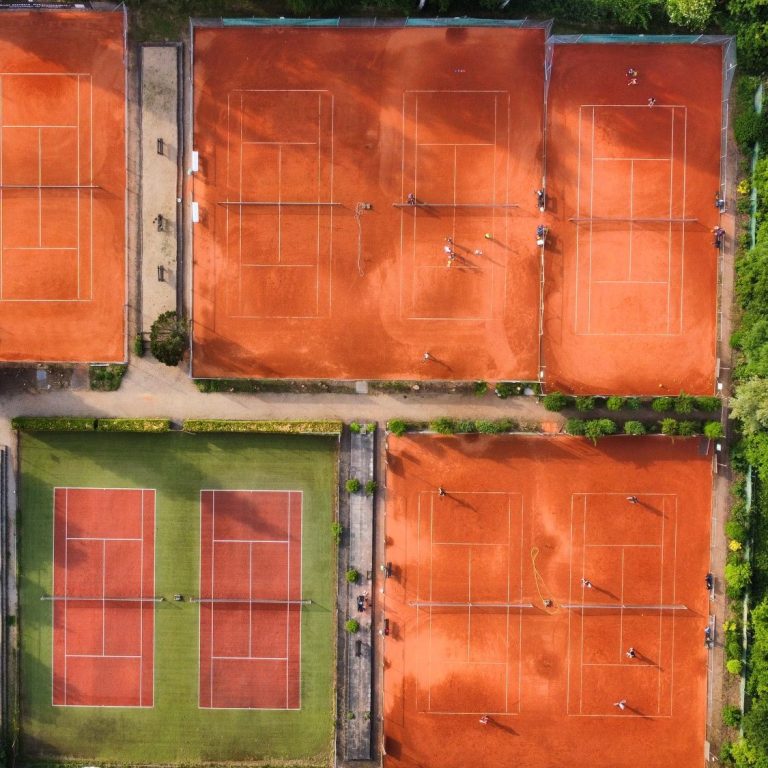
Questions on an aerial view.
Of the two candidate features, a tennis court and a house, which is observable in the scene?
tennis court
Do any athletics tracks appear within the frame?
No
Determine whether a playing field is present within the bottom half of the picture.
No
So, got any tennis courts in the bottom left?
Yes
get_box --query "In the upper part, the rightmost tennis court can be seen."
[541,44,722,396]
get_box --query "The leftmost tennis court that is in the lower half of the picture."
[19,429,178,767]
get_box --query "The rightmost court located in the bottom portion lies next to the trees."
[544,435,712,768]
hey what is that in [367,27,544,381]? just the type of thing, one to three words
tennis court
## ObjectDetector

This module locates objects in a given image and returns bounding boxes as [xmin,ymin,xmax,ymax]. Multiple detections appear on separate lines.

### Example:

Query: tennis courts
[367,27,544,381]
[0,10,124,361]
[177,430,338,767]
[541,44,722,396]
[544,435,712,768]
[192,26,368,380]
[19,429,178,767]
[384,433,546,768]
